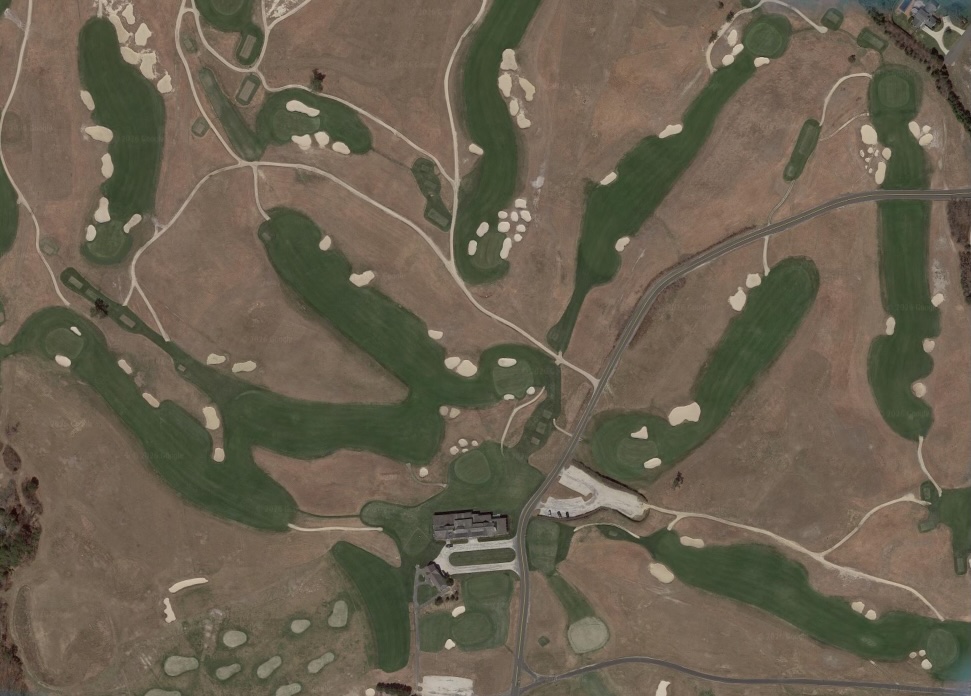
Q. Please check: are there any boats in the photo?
No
